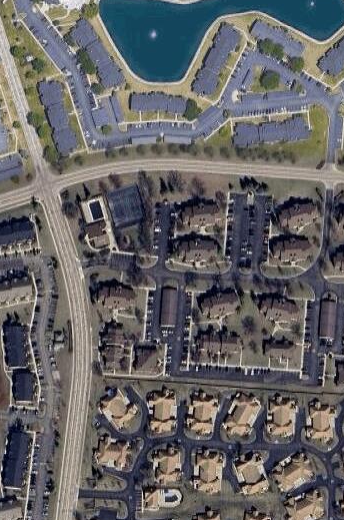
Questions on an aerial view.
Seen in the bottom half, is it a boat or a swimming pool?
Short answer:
swimming pool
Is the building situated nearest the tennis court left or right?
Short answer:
left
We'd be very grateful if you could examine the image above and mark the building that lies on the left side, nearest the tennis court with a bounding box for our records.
[84,228,108,249]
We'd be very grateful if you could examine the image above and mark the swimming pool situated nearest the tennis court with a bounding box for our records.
[83,195,108,224]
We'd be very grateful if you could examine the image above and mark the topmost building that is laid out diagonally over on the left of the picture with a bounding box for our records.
[66,20,125,91]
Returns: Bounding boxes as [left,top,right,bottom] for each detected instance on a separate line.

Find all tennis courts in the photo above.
[108,187,145,227]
